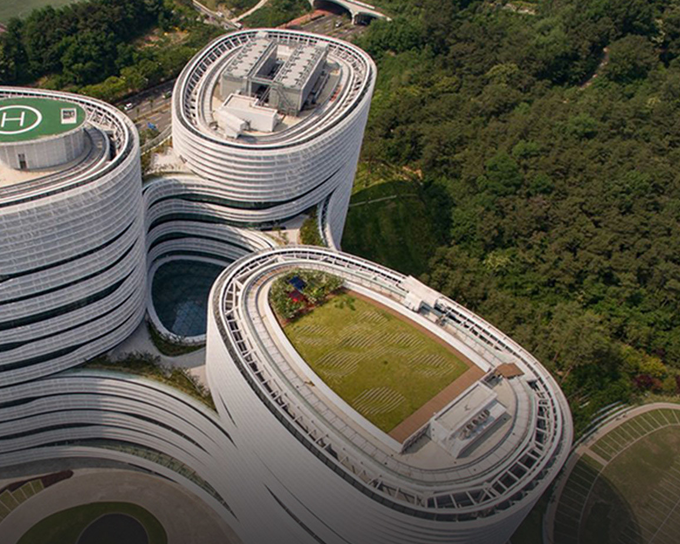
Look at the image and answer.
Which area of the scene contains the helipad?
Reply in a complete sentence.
Look in the top left portion of the view to spot the helipad.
